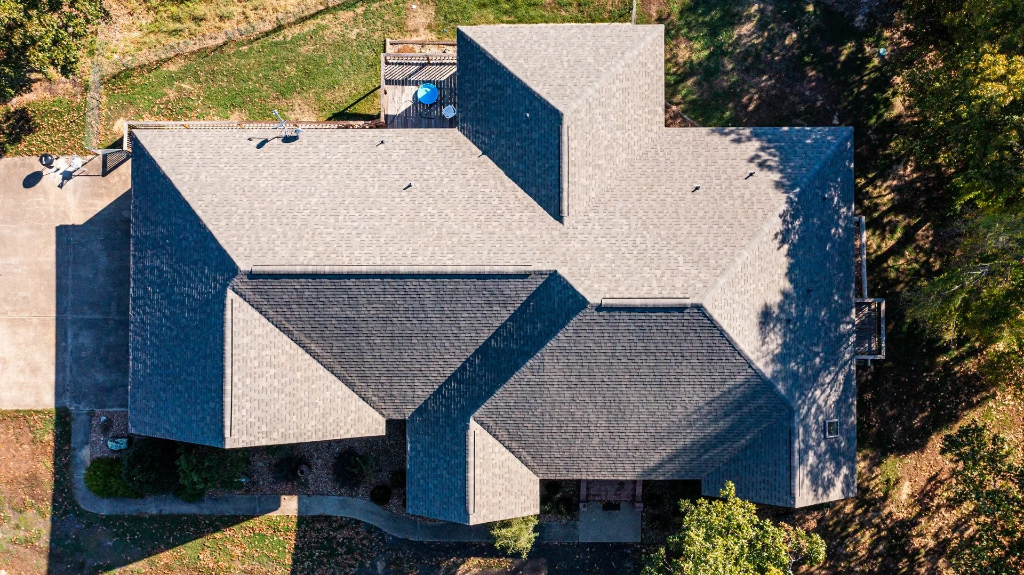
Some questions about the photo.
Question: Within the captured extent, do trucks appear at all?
No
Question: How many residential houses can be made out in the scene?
1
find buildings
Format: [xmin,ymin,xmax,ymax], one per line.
[129,23,857,525]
